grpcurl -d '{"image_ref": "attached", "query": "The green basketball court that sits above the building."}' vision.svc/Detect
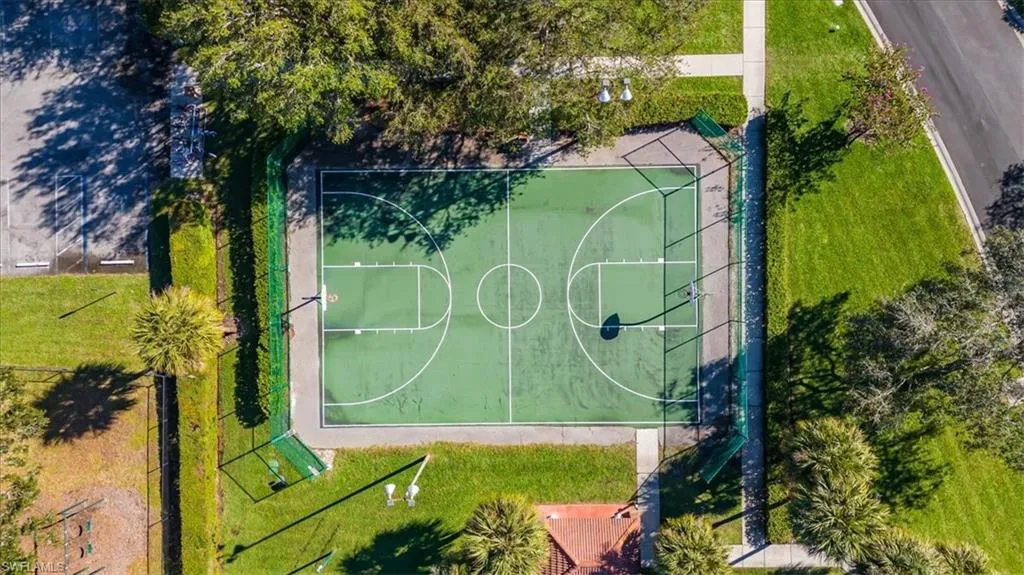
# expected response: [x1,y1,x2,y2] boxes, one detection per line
[289,129,730,449]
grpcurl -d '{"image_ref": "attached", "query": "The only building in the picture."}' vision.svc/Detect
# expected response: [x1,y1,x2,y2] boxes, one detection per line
[535,502,644,575]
